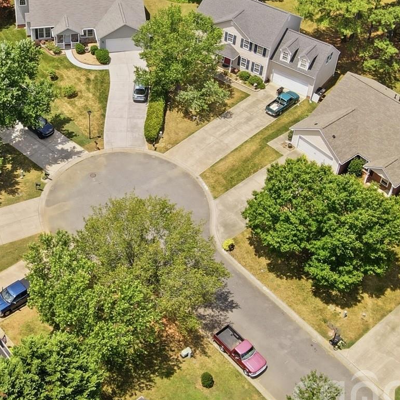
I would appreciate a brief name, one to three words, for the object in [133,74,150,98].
car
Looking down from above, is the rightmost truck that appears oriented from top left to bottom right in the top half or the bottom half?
bottom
